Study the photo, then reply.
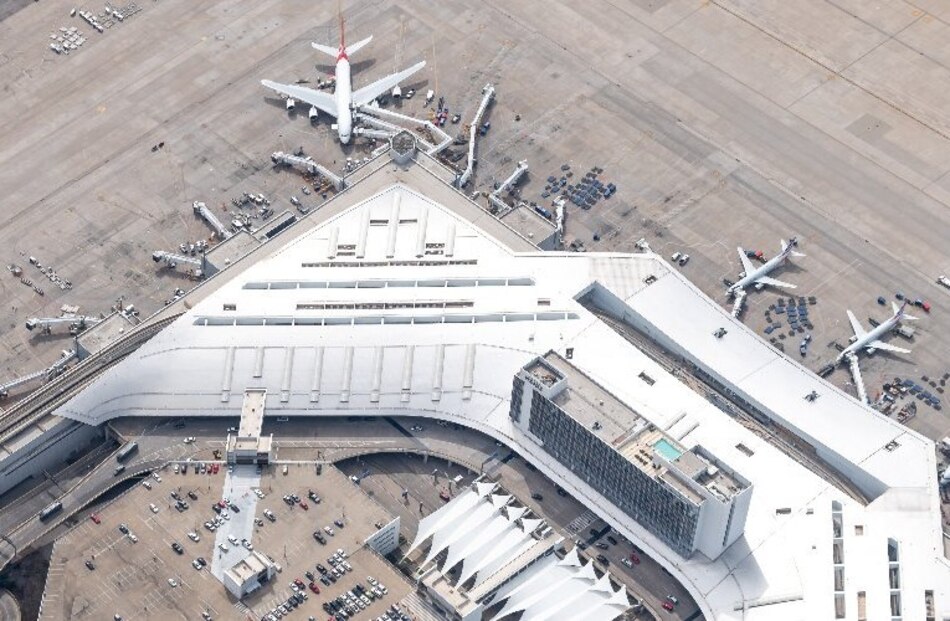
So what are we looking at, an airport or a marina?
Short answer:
airport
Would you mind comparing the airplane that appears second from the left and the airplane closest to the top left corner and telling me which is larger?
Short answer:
the airplane closest to the top left corner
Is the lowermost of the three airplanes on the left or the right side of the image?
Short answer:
right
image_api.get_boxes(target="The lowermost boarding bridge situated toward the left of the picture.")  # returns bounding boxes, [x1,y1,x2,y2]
[0,370,40,393]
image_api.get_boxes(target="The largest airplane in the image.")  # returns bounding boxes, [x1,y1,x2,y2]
[260,17,424,146]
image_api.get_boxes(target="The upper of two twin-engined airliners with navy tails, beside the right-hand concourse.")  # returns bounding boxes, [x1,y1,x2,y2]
[725,236,805,295]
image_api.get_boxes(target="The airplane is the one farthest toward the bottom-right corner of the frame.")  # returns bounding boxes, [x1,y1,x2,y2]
[837,299,917,361]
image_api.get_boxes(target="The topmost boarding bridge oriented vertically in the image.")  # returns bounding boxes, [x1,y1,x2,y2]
[457,87,492,190]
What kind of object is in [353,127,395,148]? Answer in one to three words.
jet bridge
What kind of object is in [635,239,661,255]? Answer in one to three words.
jet bridge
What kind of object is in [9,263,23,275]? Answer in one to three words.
vehicle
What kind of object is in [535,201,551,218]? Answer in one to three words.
vehicle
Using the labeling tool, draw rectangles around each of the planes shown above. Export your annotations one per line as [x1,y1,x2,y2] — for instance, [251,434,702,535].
[260,17,424,146]
[837,299,917,361]
[725,236,805,295]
